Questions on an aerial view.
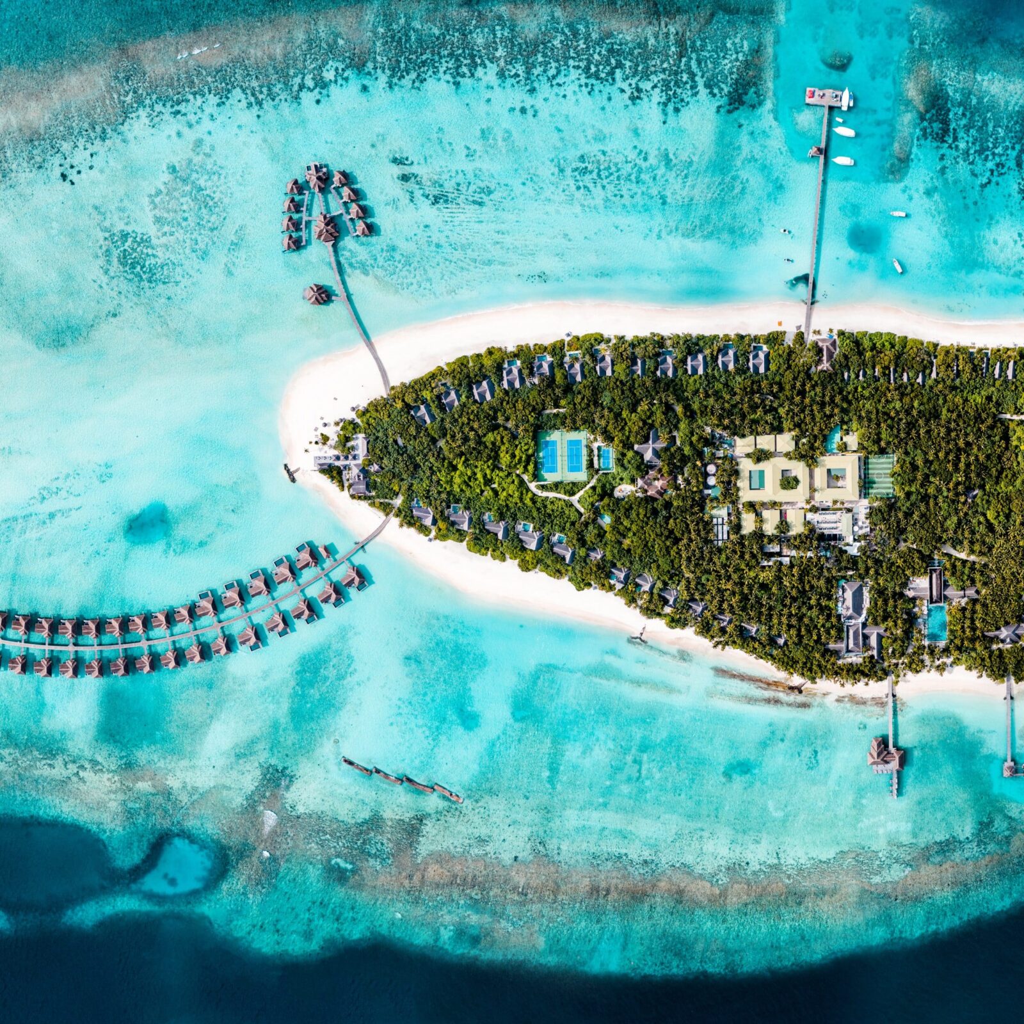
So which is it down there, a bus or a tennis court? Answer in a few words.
tennis court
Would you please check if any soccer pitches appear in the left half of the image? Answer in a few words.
No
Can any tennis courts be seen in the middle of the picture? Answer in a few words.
Yes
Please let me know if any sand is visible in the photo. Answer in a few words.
Yes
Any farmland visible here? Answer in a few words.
No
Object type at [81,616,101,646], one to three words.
house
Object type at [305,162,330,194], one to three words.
building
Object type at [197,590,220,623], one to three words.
house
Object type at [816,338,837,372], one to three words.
building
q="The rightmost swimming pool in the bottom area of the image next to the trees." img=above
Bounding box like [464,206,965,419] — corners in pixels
[928,606,948,641]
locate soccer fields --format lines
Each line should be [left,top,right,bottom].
[863,454,896,498]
